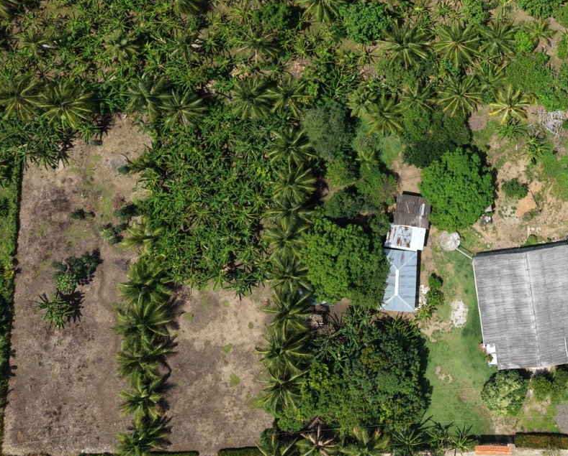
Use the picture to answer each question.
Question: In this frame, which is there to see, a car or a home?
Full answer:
This aerial view contains a home.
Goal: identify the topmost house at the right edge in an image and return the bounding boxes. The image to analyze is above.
[472,241,568,371]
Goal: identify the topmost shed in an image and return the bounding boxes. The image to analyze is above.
[394,193,430,229]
